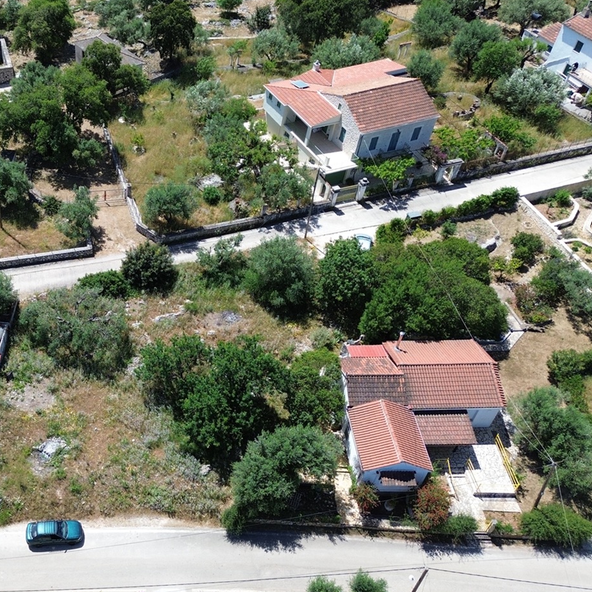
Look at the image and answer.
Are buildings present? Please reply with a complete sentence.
Yes, the photo shows a building.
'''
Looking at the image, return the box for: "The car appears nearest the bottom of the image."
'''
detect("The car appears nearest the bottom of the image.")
[24,521,83,552]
